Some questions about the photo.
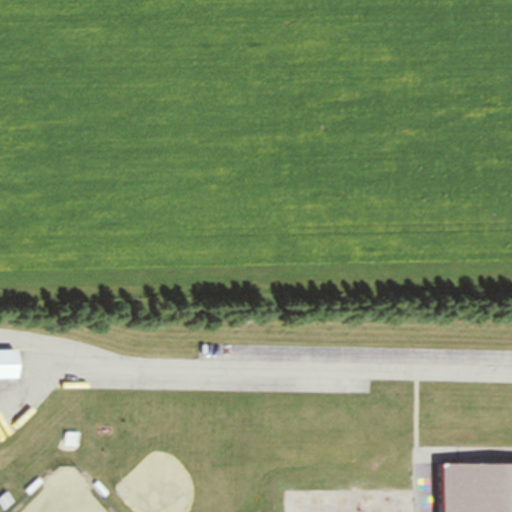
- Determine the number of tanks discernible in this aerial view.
0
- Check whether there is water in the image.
No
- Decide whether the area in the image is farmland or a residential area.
farmland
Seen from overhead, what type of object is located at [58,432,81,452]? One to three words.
shed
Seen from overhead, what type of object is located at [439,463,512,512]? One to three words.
building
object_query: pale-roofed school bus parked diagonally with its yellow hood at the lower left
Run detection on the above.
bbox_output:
[10,408,37,430]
